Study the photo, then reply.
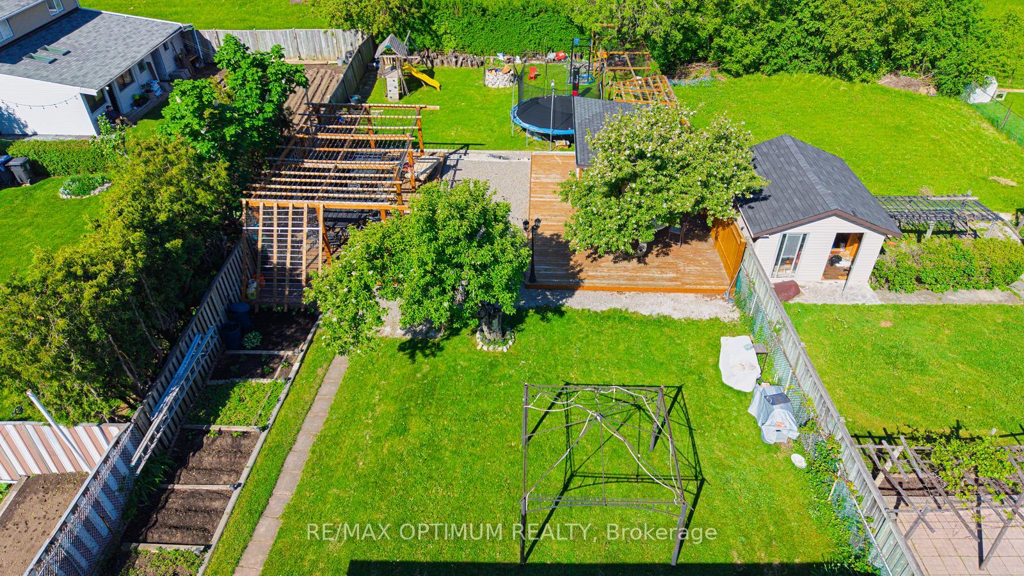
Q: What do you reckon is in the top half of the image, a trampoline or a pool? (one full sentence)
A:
The one visible in the top half of the image is a trampoline.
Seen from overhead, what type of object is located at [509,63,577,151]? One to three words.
trampoline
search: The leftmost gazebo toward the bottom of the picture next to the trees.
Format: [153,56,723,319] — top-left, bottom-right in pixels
[517,381,696,568]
